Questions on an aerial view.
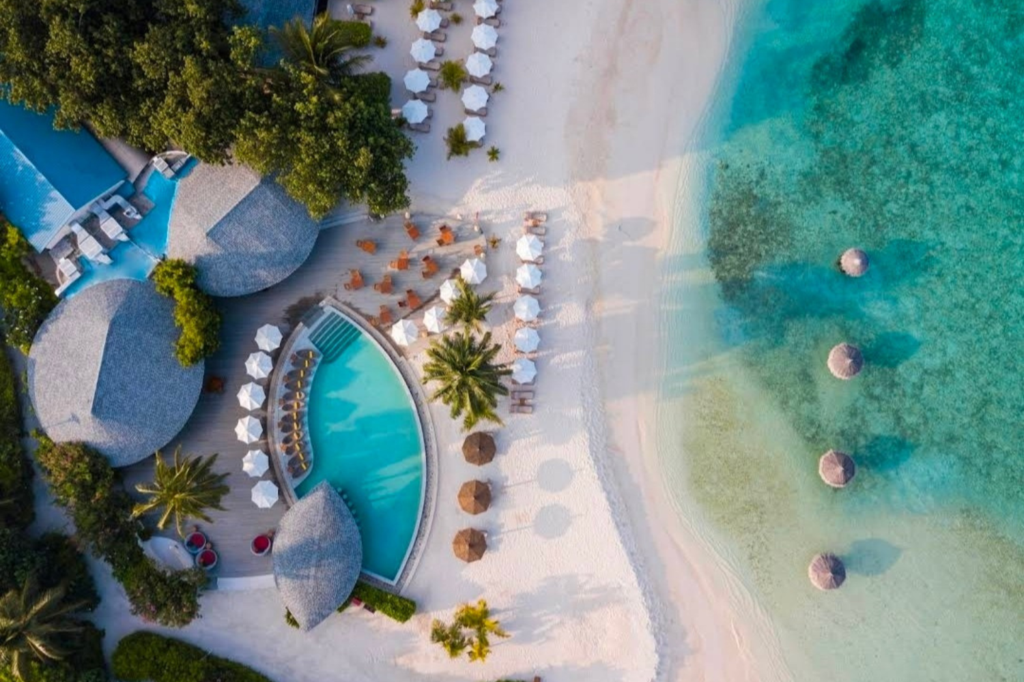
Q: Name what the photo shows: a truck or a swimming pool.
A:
swimming pool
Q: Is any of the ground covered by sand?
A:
Yes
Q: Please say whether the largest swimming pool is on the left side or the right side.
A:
left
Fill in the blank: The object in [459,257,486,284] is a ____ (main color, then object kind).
white umbrella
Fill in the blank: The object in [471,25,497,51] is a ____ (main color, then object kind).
white umbrella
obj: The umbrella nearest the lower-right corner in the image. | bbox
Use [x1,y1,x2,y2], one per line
[808,553,843,589]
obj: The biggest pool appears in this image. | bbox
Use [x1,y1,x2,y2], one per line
[267,297,439,589]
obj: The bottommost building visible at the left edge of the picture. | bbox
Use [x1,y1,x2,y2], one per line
[27,279,205,468]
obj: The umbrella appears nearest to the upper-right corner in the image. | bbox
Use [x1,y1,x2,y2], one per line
[837,247,867,277]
